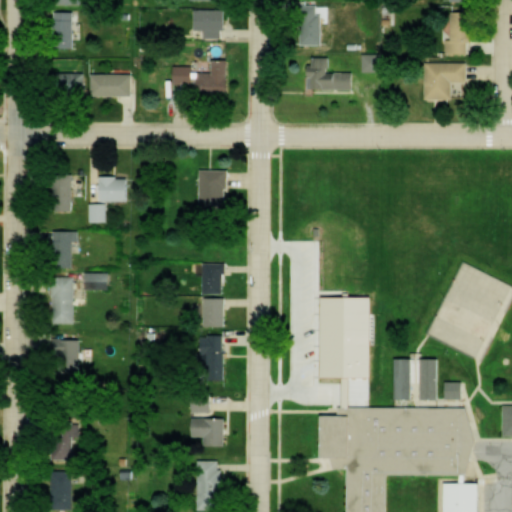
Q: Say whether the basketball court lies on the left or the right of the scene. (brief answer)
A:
right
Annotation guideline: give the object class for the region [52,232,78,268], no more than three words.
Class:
house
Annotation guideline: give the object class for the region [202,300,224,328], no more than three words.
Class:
house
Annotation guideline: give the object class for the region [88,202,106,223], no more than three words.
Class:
building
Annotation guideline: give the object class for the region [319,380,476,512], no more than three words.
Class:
building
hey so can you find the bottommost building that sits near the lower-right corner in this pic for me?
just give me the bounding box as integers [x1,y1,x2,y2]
[442,479,484,512]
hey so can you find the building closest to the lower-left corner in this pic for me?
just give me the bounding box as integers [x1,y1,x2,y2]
[50,470,72,511]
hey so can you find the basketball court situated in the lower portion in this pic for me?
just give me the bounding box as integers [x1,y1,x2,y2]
[429,262,512,362]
